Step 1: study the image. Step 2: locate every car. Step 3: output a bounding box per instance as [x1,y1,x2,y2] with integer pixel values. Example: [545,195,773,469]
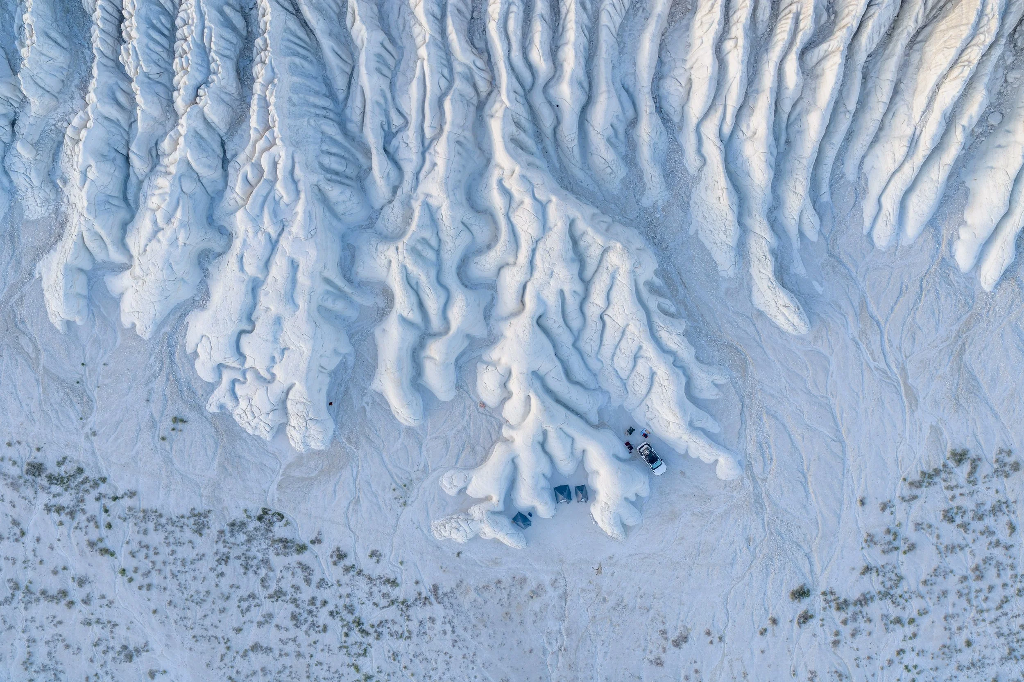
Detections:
[637,442,667,477]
